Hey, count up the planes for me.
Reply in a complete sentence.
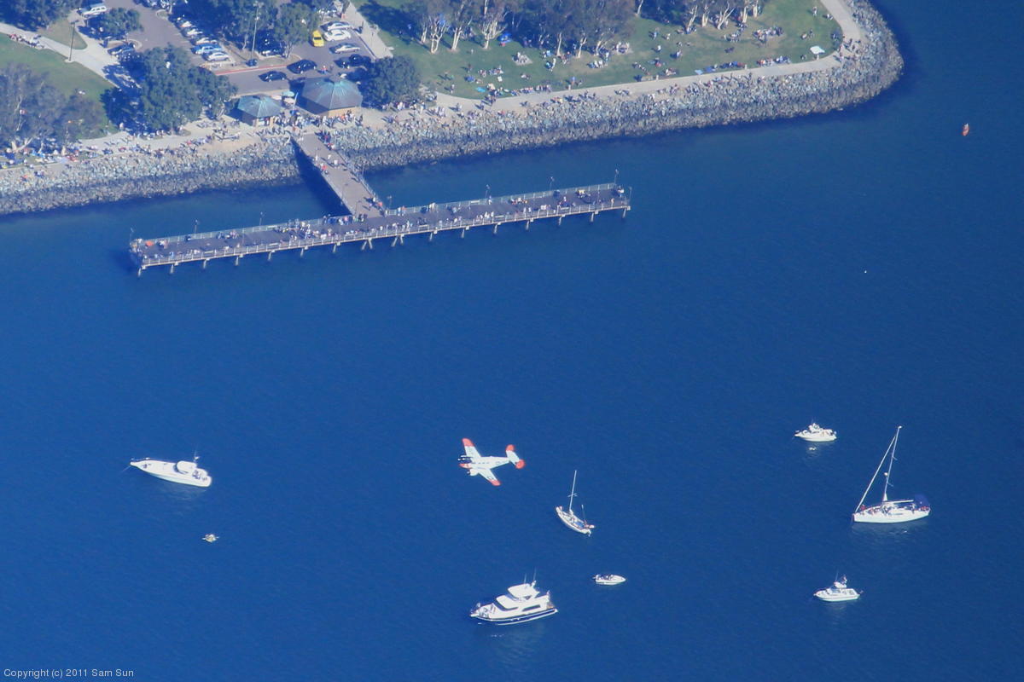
The picture shows just 1 plane.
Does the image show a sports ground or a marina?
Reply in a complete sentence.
This image shows a marina.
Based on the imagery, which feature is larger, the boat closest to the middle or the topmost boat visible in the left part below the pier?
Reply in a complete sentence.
Of the two, the topmost boat visible in the left part below the pier is larger and the boat closest to the middle is the smaller one.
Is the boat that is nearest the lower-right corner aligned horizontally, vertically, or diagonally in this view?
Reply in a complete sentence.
The boat that is nearest the lower-right corner has been laid out horizontally relative to the frame.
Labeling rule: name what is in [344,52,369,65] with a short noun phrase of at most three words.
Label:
vehicle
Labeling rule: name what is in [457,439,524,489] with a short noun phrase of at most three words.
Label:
airplane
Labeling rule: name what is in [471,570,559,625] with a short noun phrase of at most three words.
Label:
boat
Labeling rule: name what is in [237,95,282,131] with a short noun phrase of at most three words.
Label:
building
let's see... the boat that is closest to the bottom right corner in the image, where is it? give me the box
[816,579,862,602]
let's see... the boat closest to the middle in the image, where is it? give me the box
[559,469,594,533]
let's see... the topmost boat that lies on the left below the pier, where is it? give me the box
[119,457,211,490]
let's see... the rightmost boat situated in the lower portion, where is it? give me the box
[856,428,933,520]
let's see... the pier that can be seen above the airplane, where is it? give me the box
[128,125,632,281]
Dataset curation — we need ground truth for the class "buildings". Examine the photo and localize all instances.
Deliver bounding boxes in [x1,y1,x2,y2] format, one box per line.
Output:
[301,78,364,124]
[237,95,282,131]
